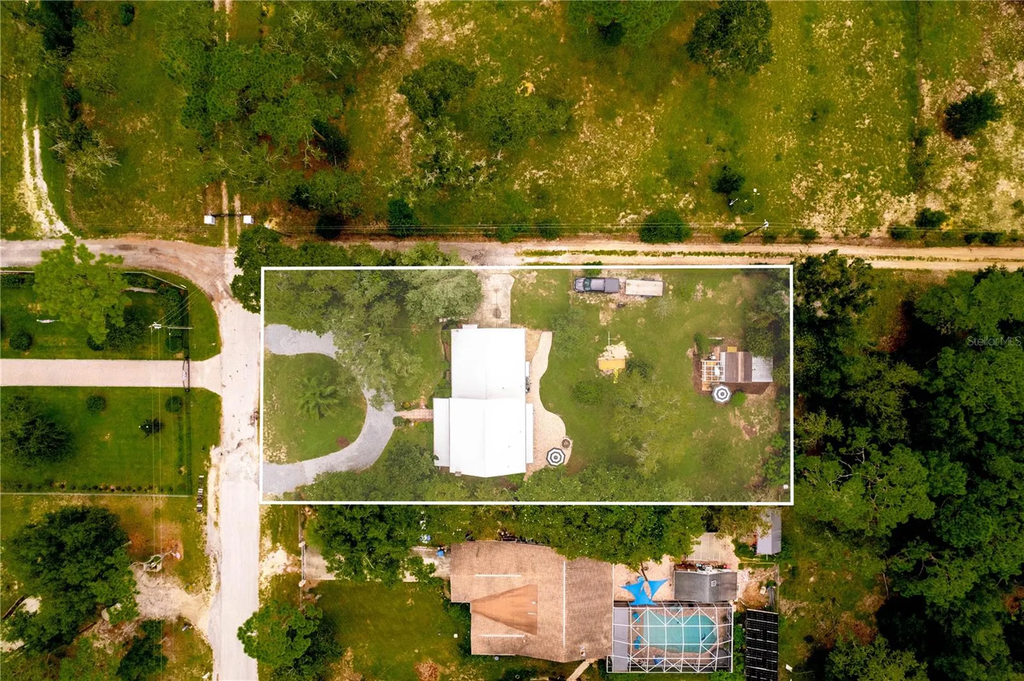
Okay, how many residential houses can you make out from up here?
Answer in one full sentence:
In total, there are 2 residential houses in the scene.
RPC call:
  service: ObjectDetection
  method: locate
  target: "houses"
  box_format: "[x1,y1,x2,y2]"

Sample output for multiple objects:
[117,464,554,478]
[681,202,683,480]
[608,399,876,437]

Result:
[449,538,614,663]
[434,324,533,477]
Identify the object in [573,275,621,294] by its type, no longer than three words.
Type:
vehicle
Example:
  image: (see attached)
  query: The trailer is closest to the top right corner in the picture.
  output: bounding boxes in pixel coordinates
[621,278,664,298]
